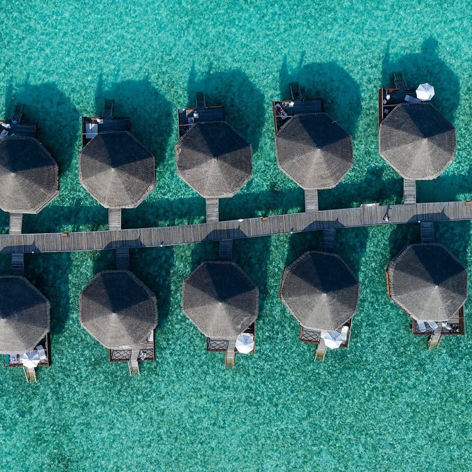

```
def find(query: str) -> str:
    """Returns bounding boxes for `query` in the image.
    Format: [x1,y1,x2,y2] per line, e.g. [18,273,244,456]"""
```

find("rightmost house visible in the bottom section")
[380,241,468,351]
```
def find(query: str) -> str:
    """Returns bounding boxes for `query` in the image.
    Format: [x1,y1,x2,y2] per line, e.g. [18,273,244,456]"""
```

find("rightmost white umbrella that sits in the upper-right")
[416,82,434,101]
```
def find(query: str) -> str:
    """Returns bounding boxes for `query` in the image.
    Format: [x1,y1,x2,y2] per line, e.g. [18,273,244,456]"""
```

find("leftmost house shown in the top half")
[0,101,67,215]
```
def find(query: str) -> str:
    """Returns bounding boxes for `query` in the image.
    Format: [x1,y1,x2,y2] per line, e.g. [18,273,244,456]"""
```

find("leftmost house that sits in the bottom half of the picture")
[0,273,53,382]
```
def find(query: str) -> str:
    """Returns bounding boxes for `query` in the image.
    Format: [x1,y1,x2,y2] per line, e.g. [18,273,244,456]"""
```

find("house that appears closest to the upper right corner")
[374,70,458,182]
